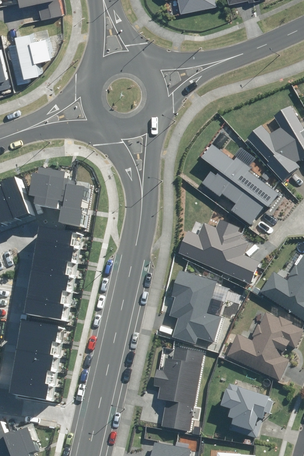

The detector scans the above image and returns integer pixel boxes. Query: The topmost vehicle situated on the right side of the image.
[181,80,198,95]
